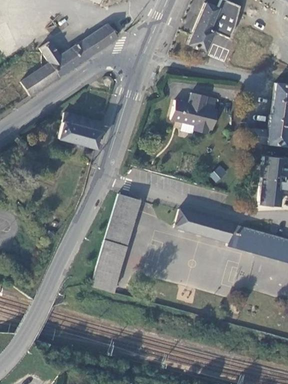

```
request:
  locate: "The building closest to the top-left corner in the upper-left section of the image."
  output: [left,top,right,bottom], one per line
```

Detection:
[37,42,61,68]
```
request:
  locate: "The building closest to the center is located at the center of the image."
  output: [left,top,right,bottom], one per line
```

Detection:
[104,193,140,244]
